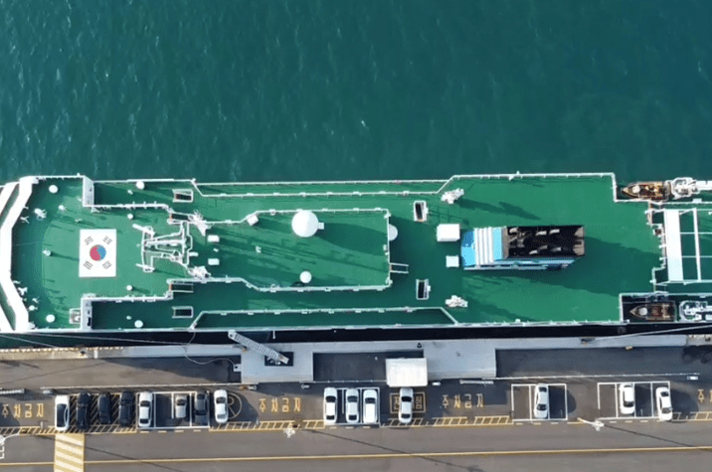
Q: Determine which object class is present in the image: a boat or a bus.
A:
boat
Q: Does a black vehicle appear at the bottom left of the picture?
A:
Yes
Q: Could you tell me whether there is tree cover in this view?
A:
No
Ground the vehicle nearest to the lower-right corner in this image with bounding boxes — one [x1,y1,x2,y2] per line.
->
[654,385,675,419]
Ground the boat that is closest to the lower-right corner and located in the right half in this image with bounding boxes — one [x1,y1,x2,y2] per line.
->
[627,301,678,321]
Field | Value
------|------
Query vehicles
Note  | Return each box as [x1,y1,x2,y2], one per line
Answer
[73,393,92,429]
[173,393,188,421]
[618,382,637,416]
[138,391,155,427]
[54,395,71,431]
[362,388,380,424]
[323,388,338,424]
[654,385,675,419]
[214,389,229,424]
[117,392,135,426]
[192,389,209,426]
[398,388,414,423]
[533,384,551,419]
[344,389,360,422]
